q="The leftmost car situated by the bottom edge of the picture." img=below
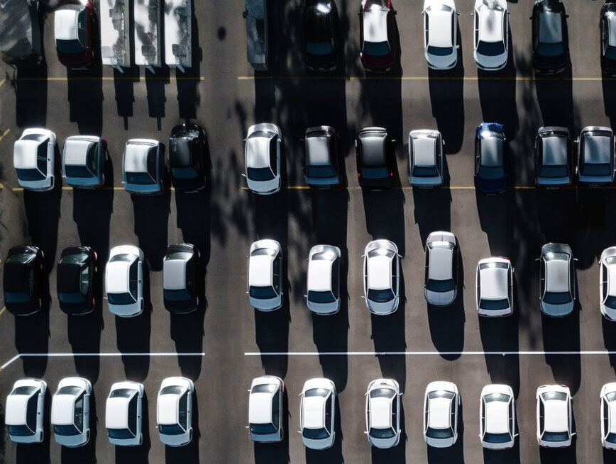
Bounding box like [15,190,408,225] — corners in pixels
[2,379,48,444]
